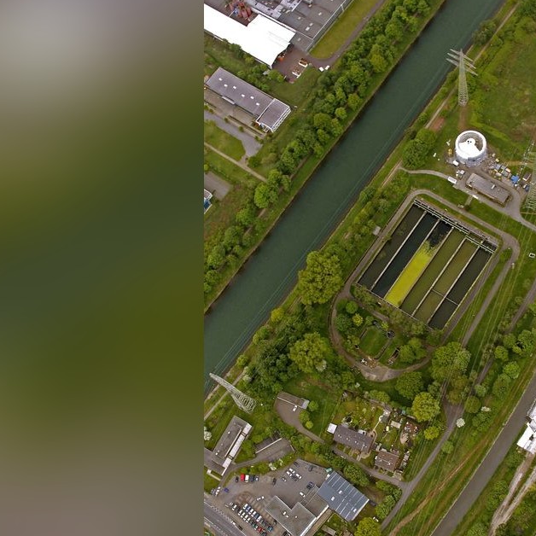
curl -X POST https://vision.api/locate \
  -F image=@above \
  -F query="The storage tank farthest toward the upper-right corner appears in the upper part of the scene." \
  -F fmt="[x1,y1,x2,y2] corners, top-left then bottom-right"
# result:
[455,131,486,166]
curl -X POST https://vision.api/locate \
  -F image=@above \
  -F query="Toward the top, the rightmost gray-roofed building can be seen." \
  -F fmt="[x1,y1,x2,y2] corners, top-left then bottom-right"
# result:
[467,173,511,206]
